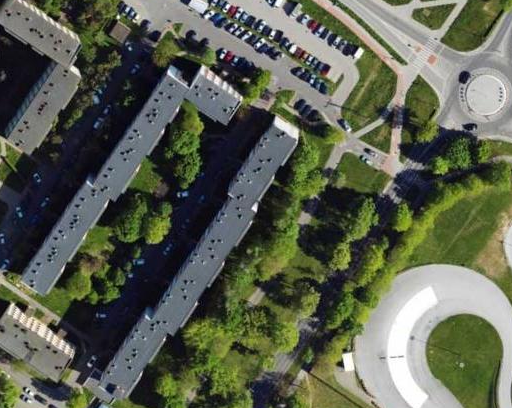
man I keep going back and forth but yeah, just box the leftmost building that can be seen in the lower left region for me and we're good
[0,299,73,383]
